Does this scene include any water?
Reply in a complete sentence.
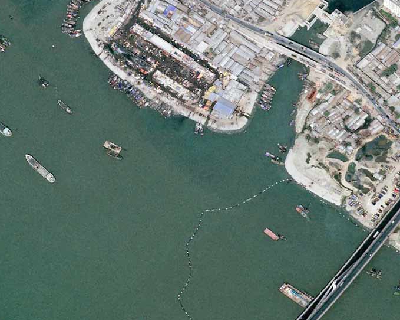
Yes, there is water in the image.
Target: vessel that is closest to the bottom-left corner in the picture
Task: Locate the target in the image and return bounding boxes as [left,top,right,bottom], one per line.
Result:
[25,154,55,184]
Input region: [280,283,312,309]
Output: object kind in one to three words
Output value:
ship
